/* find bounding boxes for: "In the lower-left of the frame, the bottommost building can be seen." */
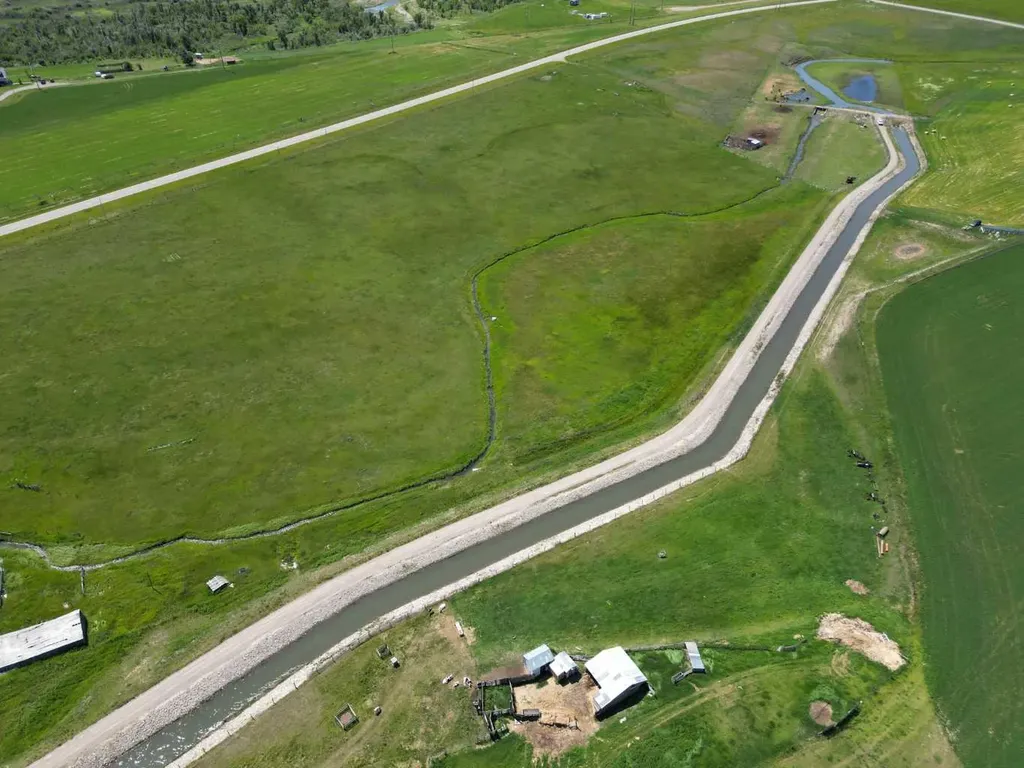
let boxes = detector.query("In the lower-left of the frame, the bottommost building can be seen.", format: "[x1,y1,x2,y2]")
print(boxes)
[0,609,87,672]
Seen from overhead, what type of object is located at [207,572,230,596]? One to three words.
shed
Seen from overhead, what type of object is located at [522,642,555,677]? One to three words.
shed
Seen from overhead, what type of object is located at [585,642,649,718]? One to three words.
barn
